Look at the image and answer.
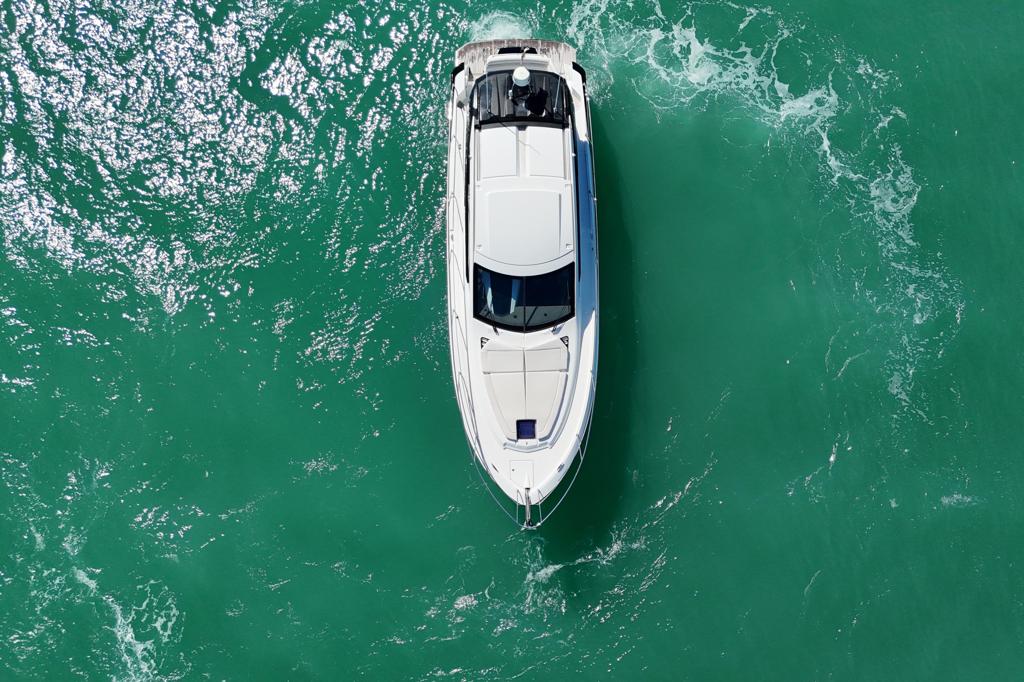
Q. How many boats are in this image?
one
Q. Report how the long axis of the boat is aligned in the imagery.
up and down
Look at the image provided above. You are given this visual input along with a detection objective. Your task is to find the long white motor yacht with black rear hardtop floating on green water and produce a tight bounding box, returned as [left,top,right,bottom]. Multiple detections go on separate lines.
[446,39,600,529]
